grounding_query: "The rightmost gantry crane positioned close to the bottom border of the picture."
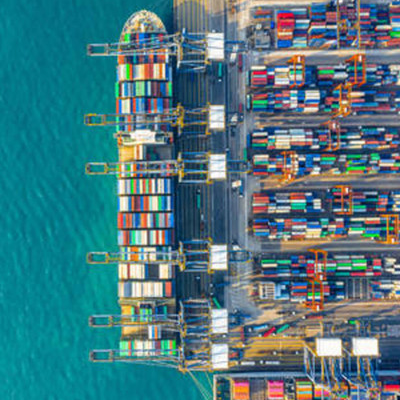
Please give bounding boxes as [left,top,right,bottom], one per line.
[330,314,384,400]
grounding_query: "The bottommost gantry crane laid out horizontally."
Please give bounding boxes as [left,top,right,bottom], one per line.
[90,326,251,370]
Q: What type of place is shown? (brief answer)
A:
port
